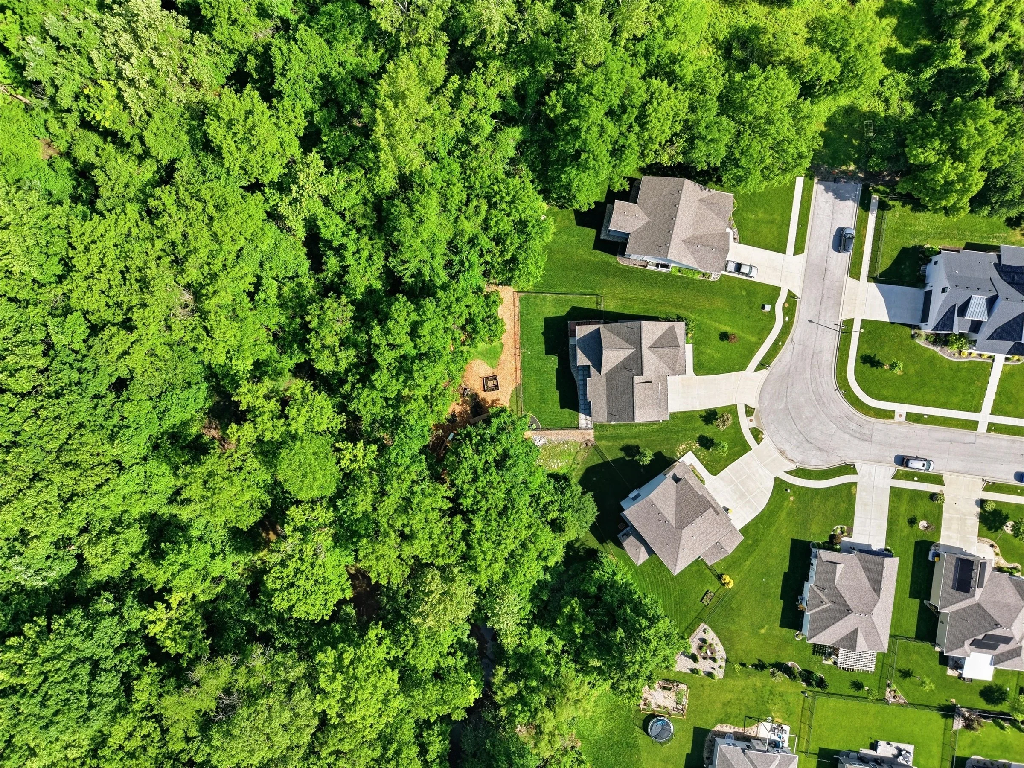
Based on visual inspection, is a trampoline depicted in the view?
Yes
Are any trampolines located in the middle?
No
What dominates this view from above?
trees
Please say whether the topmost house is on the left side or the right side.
right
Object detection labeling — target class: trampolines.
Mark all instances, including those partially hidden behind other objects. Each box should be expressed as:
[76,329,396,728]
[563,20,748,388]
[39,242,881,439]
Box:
[648,717,676,746]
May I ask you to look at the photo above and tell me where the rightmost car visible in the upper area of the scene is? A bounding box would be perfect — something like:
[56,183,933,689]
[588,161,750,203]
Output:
[839,227,856,254]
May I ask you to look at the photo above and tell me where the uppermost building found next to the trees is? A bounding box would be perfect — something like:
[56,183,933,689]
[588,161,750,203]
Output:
[609,176,734,273]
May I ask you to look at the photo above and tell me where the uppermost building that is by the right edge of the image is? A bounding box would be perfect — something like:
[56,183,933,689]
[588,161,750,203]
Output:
[921,244,1024,357]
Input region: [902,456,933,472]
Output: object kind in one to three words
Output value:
vehicle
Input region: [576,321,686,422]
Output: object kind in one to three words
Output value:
house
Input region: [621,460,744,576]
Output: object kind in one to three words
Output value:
house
